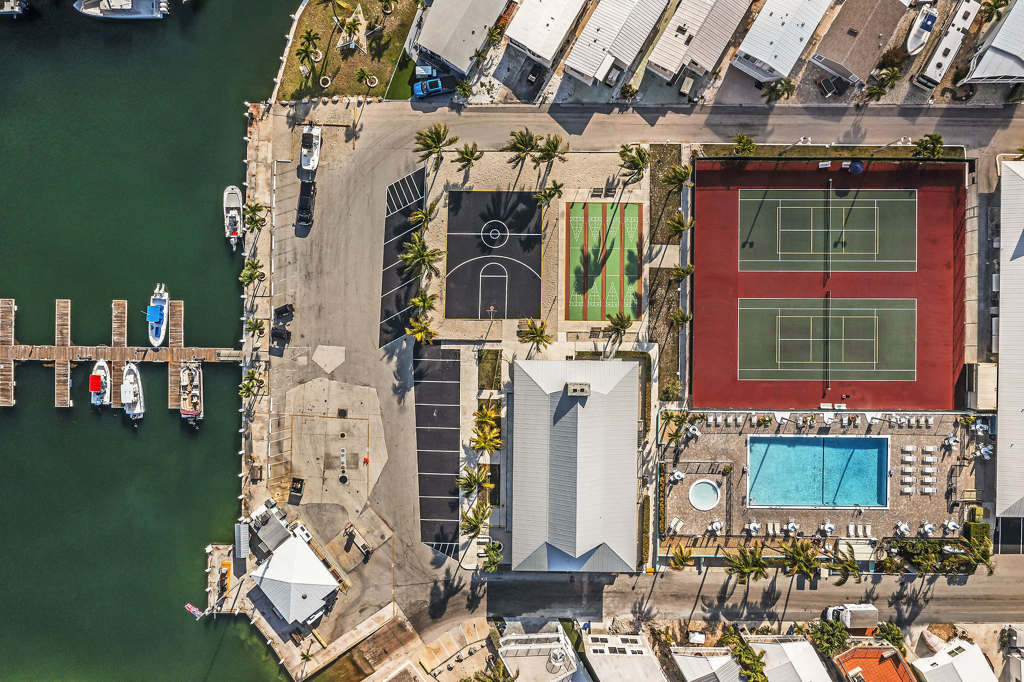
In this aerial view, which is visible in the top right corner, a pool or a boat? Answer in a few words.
boat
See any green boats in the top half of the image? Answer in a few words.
No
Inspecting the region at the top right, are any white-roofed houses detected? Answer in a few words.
Yes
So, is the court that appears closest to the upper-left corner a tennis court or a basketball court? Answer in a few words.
basketball court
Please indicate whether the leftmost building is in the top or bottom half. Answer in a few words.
bottom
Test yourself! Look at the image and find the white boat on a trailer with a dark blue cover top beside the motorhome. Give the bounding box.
[908,0,943,58]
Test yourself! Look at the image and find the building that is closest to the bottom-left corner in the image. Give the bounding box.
[250,497,352,625]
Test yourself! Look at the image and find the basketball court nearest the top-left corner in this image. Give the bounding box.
[444,190,543,321]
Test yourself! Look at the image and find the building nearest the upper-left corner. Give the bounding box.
[418,0,509,78]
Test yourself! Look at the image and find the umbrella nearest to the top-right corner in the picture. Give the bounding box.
[854,155,872,170]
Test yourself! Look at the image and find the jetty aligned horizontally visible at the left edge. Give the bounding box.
[0,298,235,409]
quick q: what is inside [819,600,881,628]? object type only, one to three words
truck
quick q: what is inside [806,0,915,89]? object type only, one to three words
house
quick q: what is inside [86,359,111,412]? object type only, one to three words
boat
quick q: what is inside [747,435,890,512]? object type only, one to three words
swimming pool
